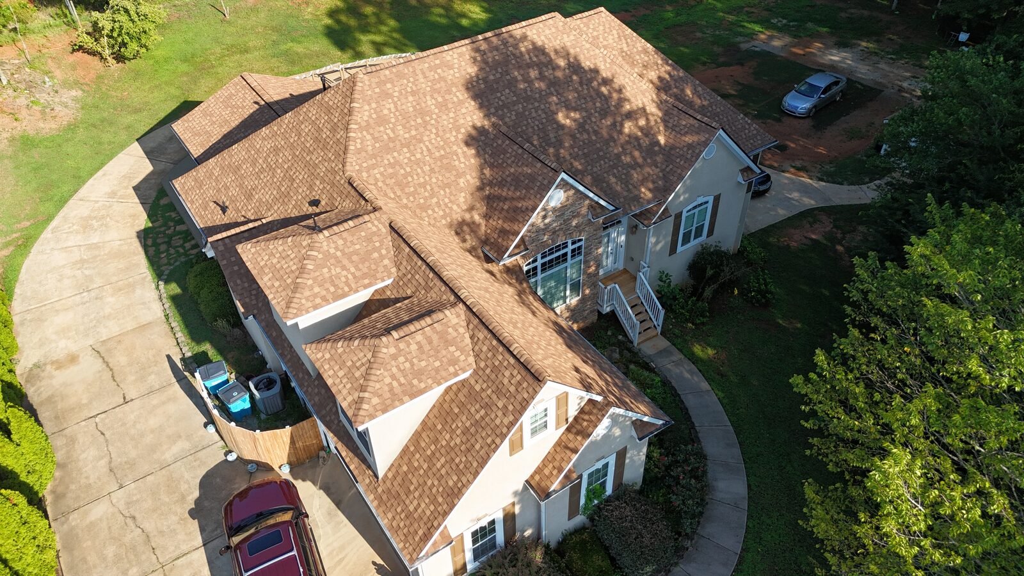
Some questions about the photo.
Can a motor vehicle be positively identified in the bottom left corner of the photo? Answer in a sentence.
Yes, in the bottom left corner of the photo there is a motor vehicle.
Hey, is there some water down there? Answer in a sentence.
No, water can't be seen anywhere here.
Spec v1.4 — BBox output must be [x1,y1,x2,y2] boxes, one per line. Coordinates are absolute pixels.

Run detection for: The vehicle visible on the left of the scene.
[220,477,331,576]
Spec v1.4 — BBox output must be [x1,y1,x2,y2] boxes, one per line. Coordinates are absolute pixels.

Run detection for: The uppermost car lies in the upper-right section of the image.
[778,63,853,117]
